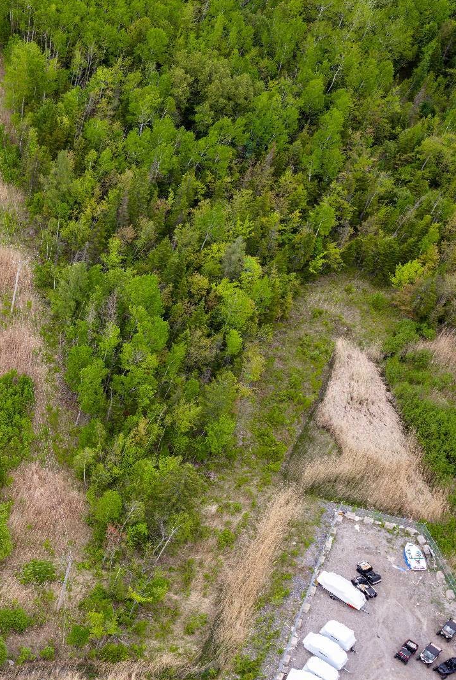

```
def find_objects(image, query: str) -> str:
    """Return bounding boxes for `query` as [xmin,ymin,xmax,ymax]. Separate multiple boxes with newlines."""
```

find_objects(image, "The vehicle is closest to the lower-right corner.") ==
[437,658,456,679]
